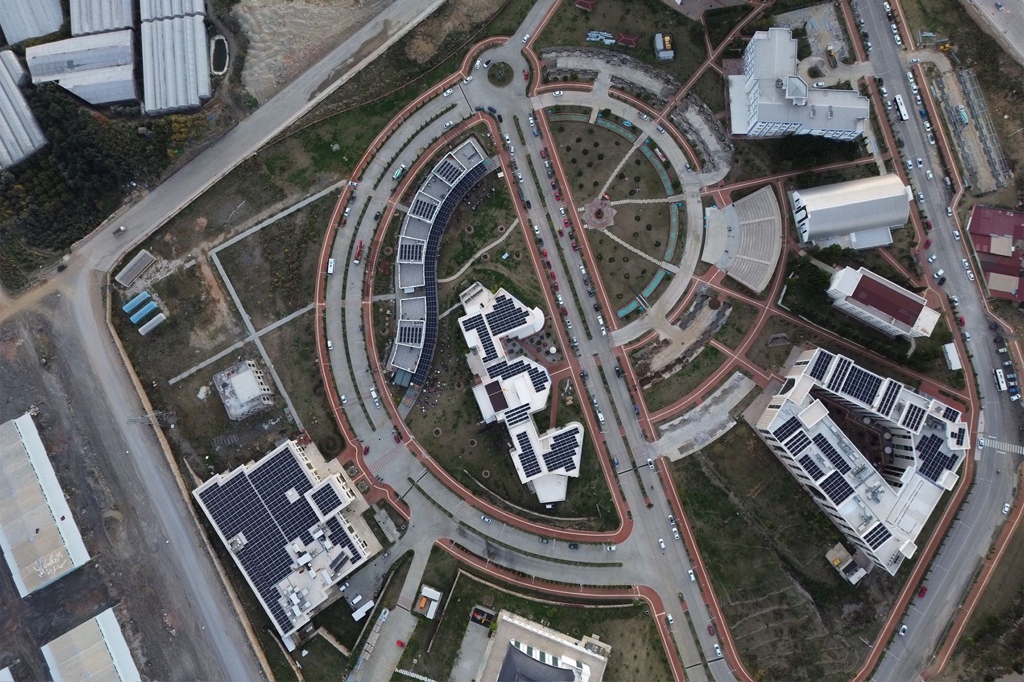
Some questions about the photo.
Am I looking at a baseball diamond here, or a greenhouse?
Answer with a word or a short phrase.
greenhouse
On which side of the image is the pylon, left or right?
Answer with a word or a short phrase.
left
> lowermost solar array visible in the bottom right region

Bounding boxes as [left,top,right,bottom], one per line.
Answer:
[863,523,891,549]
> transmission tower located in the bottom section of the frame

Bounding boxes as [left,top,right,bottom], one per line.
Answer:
[0,393,175,431]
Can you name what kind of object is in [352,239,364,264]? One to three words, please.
vehicle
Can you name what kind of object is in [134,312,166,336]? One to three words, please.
building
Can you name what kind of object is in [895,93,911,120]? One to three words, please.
vehicle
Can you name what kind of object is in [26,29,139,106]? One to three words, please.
greenhouse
